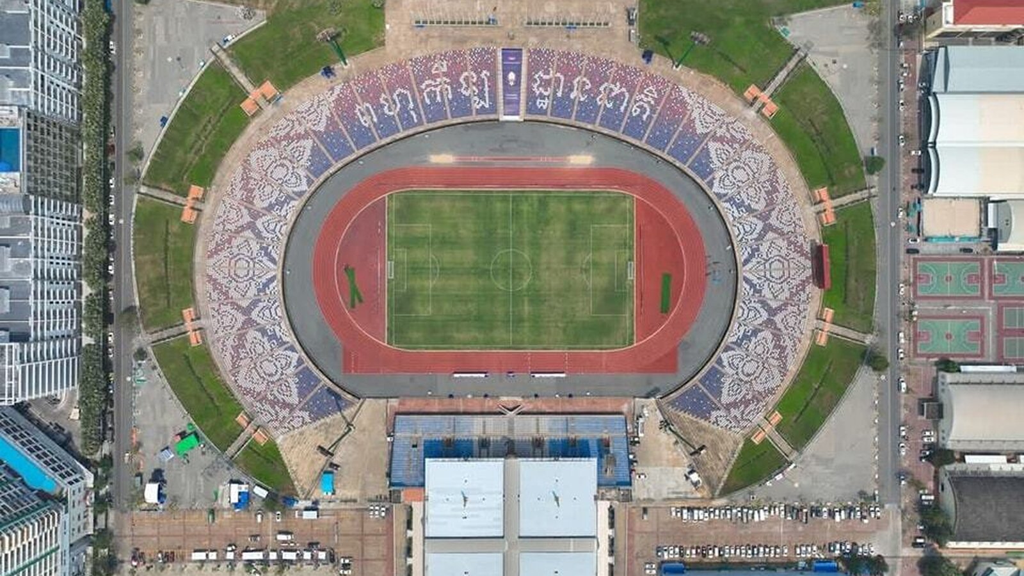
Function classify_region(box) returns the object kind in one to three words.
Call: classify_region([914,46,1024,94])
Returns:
building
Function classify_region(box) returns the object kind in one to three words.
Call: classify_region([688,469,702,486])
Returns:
vehicle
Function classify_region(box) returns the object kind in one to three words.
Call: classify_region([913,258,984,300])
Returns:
basketball court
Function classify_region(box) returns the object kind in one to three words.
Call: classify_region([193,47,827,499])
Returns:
stadium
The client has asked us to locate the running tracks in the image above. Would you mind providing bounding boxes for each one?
[314,152,706,373]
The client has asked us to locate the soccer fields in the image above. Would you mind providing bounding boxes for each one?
[386,189,635,351]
